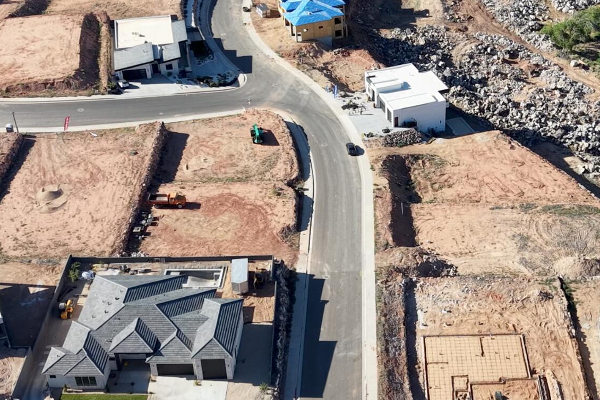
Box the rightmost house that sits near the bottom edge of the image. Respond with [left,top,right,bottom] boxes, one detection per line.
[41,274,245,388]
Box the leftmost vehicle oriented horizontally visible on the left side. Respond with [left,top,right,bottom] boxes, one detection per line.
[145,191,186,209]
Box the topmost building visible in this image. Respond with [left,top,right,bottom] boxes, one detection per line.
[277,0,346,41]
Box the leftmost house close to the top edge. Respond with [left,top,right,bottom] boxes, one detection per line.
[114,16,188,81]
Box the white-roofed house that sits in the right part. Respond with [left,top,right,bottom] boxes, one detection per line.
[365,63,448,127]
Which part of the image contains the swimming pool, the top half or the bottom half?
bottom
